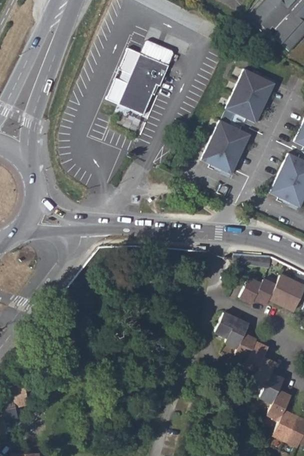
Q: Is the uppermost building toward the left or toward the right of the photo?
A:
right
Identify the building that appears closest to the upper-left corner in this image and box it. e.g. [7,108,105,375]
[104,41,174,121]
